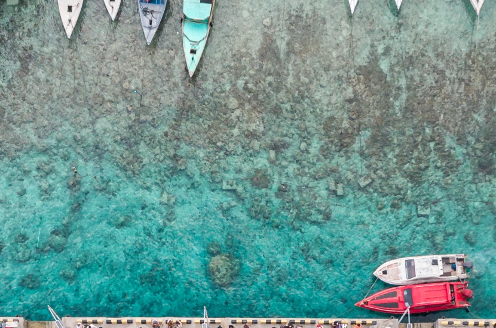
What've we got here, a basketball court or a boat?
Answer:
boat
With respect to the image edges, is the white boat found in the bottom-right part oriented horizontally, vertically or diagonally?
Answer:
horizontally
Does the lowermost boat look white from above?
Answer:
No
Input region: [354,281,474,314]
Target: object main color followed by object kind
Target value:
red boat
